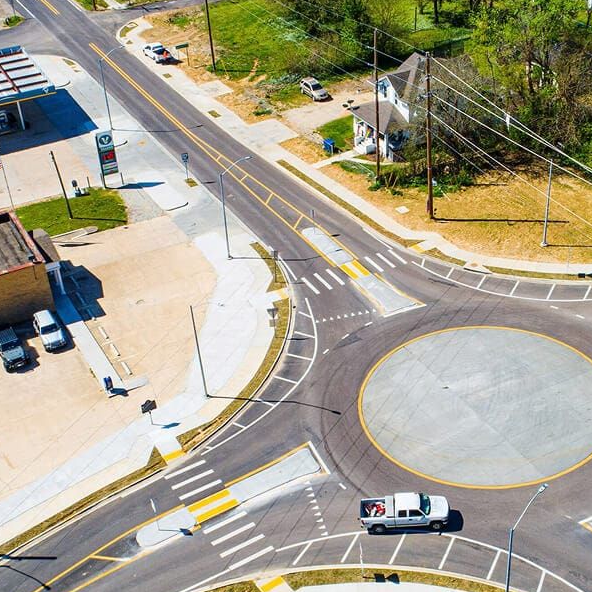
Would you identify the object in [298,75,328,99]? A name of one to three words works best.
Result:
car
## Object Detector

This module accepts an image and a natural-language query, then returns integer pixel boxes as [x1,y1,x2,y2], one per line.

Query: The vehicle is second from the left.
[28,306,71,352]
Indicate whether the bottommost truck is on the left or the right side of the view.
right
